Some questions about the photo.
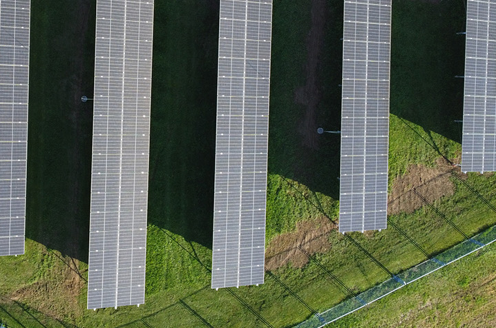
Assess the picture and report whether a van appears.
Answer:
No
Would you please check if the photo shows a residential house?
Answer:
No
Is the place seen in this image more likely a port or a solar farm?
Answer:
solar farm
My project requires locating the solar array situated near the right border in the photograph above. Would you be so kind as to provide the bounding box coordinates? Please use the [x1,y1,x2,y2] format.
[451,0,496,175]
